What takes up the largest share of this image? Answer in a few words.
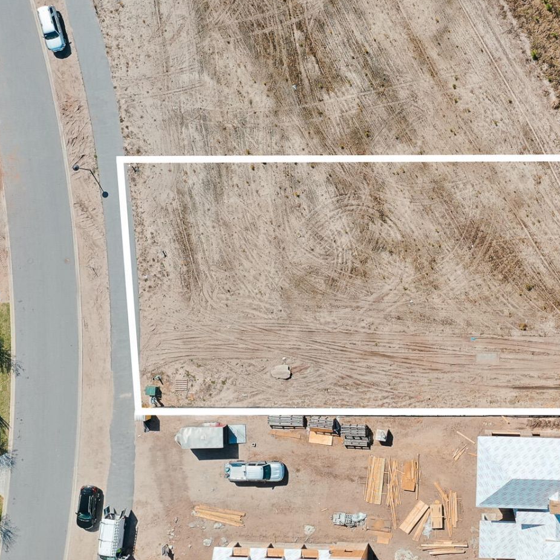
paved ground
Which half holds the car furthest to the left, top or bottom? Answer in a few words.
top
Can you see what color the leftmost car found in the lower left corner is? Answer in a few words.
black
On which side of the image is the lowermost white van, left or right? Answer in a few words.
left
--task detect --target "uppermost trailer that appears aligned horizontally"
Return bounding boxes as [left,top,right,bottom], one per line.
[169,422,251,449]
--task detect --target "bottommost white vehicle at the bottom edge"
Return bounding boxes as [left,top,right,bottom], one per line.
[97,502,135,560]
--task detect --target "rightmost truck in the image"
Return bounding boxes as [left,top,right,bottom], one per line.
[223,459,285,485]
